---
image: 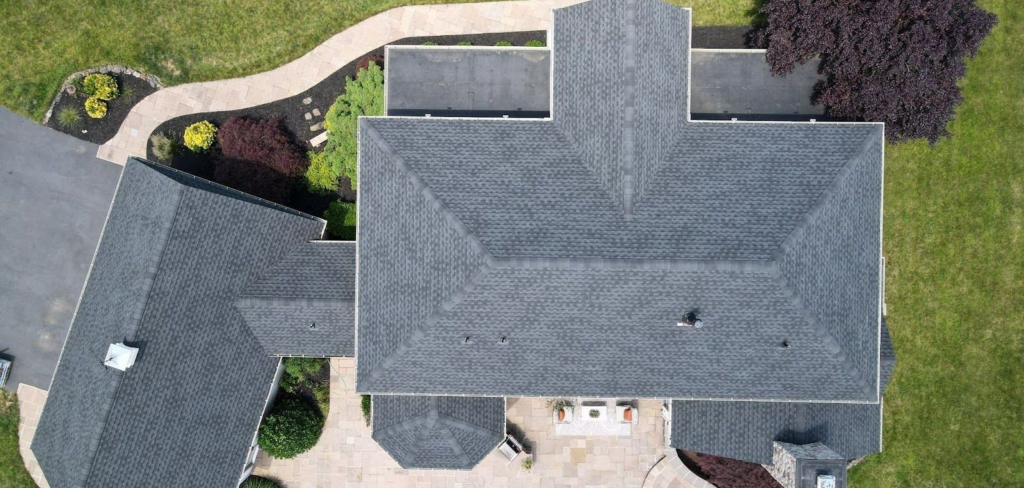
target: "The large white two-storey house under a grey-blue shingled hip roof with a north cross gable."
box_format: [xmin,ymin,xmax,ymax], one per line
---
[354,0,897,488]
